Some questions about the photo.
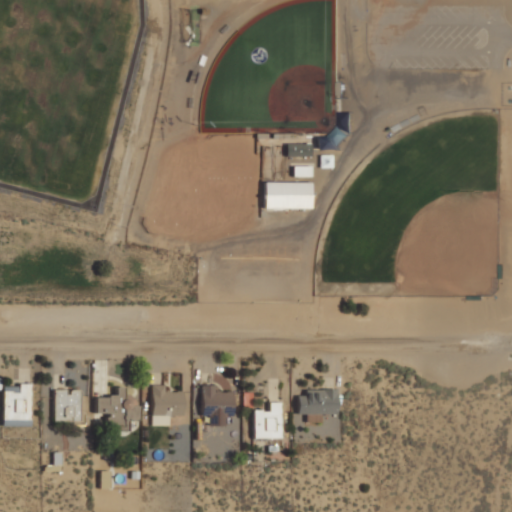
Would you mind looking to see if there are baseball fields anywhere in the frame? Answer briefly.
Yes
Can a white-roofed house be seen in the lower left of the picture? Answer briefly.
Yes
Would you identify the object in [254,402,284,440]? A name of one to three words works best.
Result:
house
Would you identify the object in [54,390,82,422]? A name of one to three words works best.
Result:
house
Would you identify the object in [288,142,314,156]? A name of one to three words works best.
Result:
shed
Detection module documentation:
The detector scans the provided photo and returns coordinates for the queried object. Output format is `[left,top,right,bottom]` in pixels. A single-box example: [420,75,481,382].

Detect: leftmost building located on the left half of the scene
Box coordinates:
[4,384,32,426]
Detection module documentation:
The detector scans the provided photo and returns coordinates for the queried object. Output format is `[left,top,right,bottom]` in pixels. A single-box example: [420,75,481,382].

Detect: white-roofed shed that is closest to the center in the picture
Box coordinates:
[266,182,315,209]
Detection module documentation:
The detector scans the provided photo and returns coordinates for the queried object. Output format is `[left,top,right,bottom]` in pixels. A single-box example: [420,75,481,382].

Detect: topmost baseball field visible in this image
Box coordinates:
[199,0,336,132]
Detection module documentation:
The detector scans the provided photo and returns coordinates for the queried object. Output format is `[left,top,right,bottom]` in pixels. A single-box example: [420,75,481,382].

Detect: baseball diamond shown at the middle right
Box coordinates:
[316,109,498,296]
